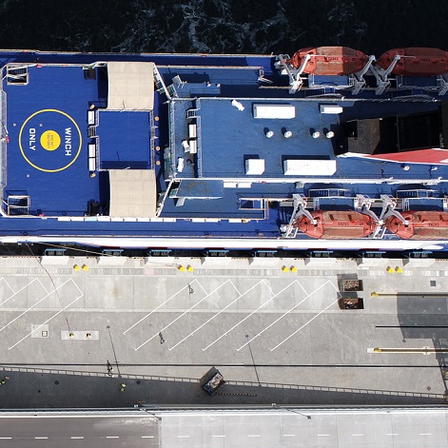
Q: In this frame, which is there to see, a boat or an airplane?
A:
boat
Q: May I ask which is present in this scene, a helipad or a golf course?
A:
helipad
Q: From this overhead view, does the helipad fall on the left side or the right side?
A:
left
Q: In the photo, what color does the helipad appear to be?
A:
yellow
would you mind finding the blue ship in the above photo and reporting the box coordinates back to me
[0,50,448,251]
